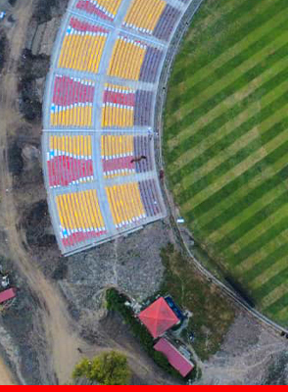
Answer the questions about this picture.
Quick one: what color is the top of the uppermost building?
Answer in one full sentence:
The roof over the uppermost building appears red.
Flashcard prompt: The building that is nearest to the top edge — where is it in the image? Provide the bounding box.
[139,297,180,338]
